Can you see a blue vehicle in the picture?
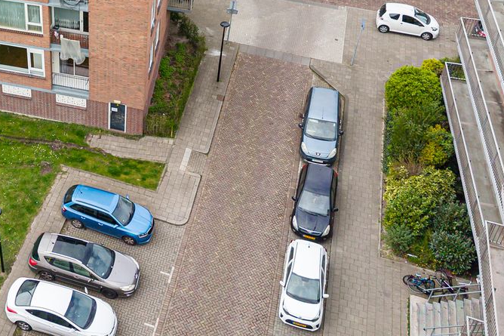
Yes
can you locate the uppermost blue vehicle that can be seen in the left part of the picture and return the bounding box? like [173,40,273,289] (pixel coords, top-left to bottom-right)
[64,180,155,242]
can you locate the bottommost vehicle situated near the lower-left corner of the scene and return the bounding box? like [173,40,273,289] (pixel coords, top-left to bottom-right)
[5,276,115,336]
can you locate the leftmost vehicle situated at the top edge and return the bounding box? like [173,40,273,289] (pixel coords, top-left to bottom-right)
[377,0,440,40]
